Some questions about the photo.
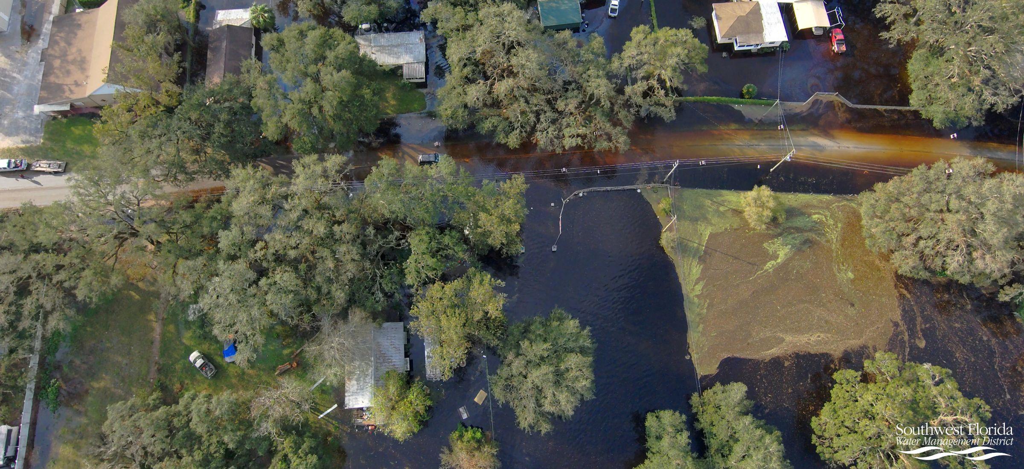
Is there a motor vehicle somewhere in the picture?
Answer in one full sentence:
Yes, you can see a motor vehicle in this photo.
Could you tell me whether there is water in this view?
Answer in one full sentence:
Yes, there is water in the image.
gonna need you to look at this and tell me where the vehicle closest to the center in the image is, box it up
[415,151,441,164]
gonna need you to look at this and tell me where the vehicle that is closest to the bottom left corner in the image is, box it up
[190,348,218,382]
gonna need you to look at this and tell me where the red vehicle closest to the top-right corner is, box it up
[830,27,849,57]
